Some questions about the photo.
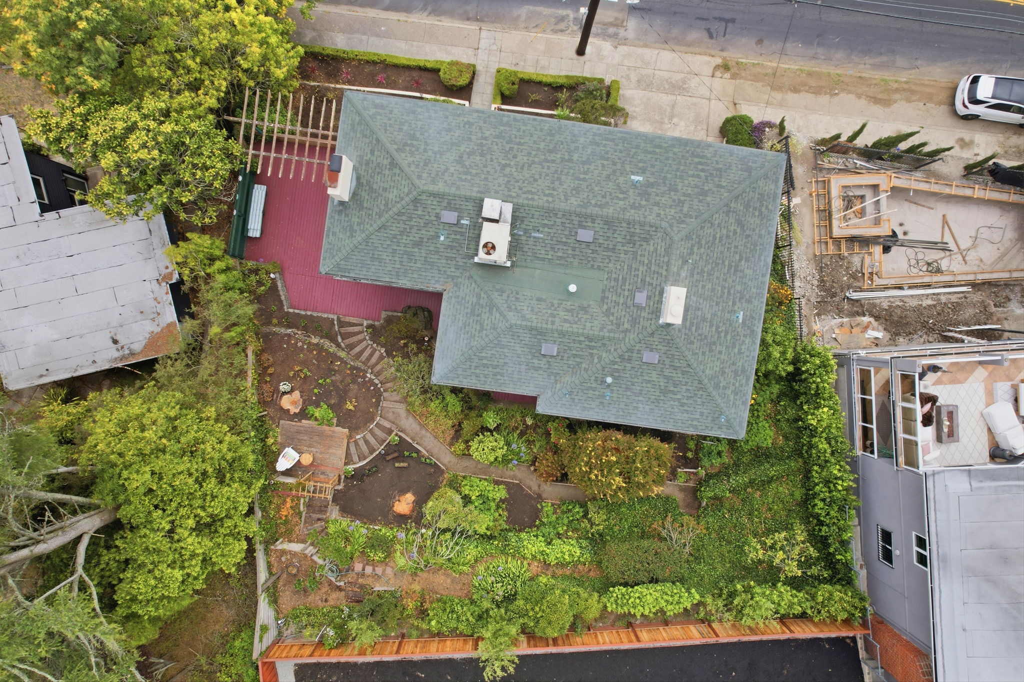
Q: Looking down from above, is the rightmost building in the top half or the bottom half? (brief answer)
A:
bottom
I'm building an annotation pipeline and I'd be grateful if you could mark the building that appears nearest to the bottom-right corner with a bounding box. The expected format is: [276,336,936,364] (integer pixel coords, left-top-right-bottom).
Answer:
[866,456,1024,682]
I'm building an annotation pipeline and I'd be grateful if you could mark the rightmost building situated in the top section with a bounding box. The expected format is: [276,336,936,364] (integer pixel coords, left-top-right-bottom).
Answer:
[316,87,789,442]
